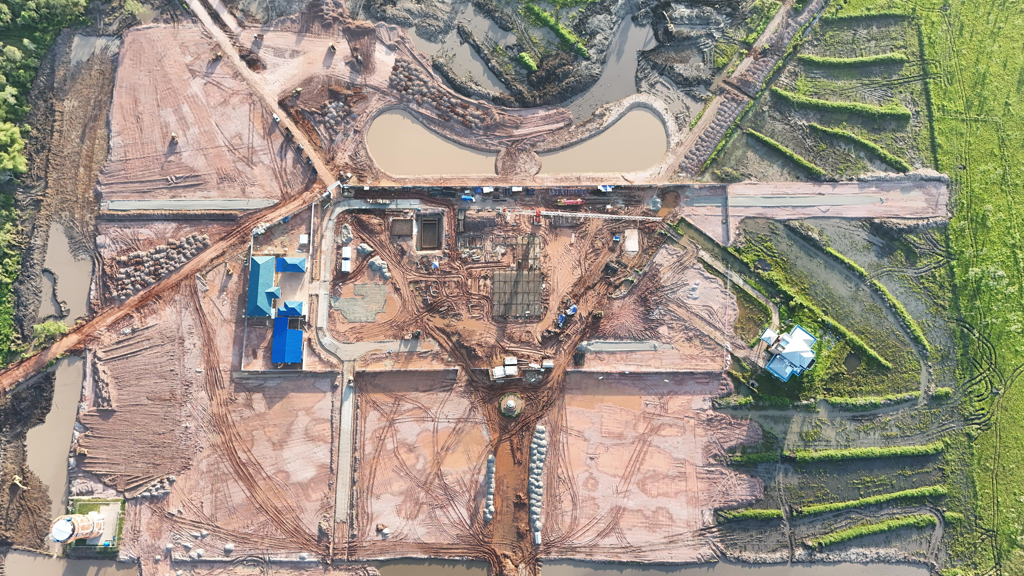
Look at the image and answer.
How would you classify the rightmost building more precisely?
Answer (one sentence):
It turns out the rightmost building is a house.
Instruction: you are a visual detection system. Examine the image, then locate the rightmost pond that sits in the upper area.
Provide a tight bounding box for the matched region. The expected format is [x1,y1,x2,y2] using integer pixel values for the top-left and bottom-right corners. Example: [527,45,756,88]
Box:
[539,108,666,174]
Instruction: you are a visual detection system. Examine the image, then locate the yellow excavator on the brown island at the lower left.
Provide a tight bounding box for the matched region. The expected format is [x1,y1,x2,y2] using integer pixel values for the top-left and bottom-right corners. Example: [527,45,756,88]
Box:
[7,472,27,490]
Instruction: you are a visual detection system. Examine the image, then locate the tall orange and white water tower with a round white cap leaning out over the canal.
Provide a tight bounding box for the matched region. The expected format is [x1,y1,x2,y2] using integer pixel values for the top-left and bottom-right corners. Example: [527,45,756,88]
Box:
[51,510,109,546]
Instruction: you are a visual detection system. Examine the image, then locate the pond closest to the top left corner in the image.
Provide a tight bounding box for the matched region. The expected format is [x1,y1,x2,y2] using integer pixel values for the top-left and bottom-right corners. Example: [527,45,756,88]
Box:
[367,110,496,175]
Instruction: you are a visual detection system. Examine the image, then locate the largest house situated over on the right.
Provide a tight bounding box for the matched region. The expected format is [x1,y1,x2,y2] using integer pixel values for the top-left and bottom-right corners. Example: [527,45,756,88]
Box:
[758,324,818,382]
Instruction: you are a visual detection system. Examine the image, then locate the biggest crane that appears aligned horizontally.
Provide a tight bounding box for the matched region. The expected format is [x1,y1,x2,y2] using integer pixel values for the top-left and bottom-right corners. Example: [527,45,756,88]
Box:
[499,207,662,228]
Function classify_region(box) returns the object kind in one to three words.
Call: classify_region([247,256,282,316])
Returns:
building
